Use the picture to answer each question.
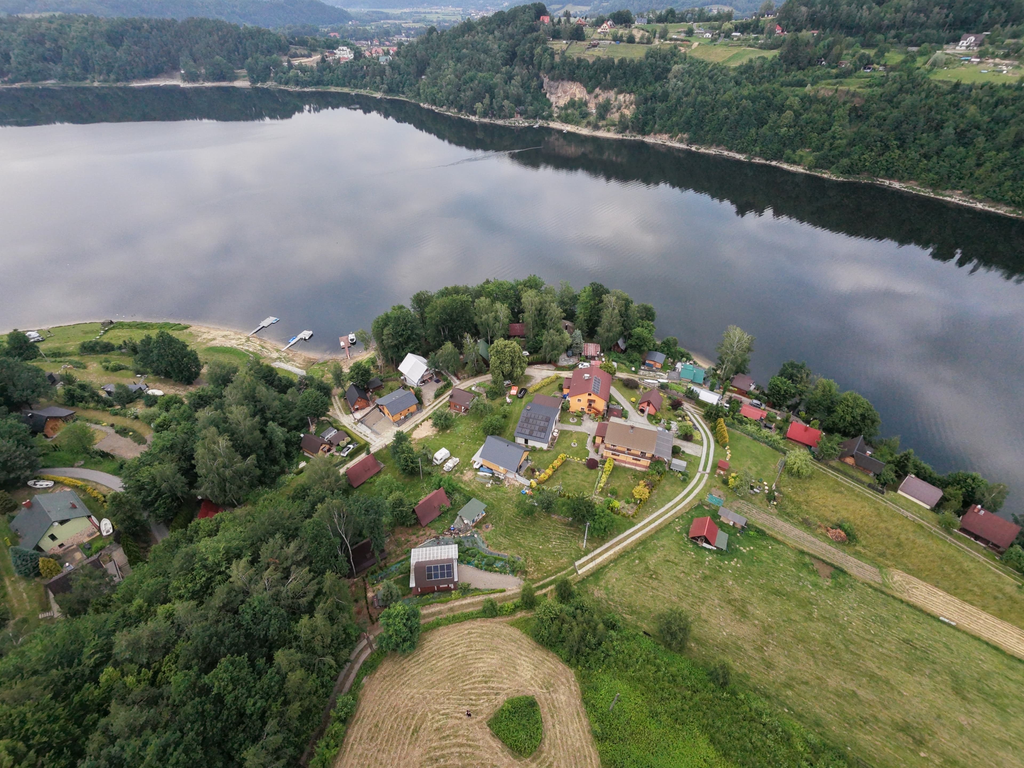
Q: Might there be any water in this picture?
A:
Yes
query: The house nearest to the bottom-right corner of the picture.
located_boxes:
[958,501,1017,552]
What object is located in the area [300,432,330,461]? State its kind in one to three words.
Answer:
building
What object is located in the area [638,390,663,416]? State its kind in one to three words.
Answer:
shed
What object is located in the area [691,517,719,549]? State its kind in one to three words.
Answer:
barn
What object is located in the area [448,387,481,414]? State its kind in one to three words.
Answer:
house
